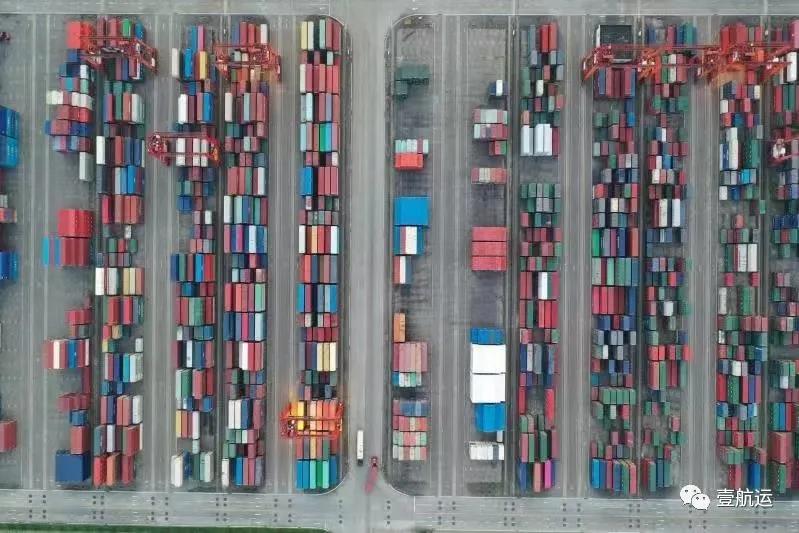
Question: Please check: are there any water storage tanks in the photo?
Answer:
No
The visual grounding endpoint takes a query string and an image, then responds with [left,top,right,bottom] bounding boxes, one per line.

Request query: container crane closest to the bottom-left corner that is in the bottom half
[279,402,344,439]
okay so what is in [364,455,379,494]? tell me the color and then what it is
red vehicle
